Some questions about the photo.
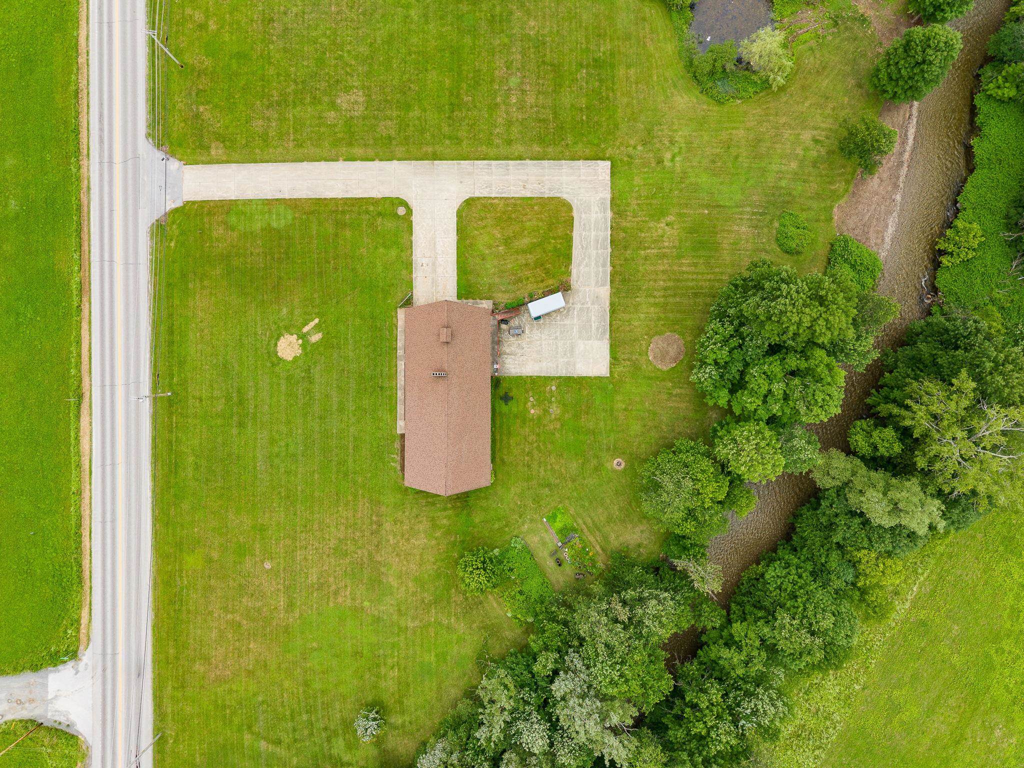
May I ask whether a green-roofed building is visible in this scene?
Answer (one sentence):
No, there's no green-roofed building here.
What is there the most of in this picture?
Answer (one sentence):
For the most part, this view shows grass.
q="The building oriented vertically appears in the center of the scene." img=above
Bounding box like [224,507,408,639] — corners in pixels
[404,300,498,496]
